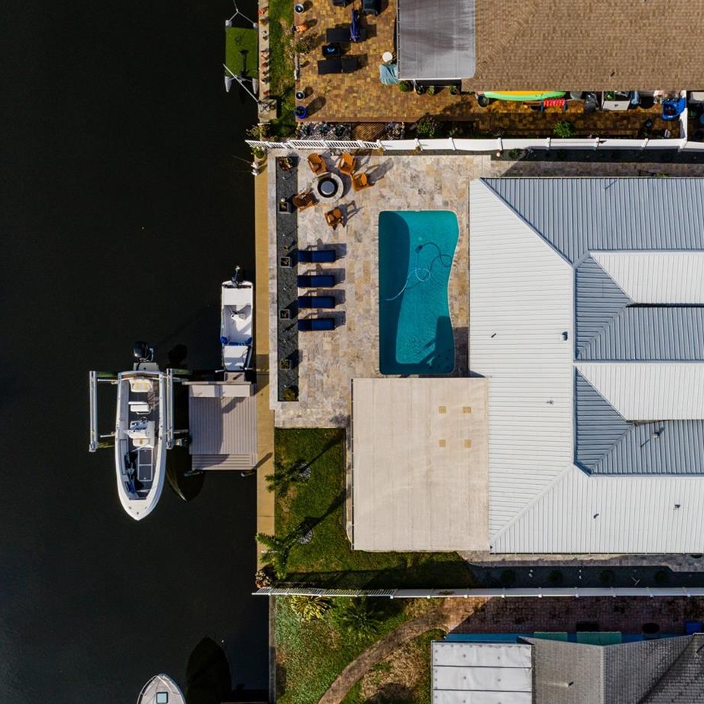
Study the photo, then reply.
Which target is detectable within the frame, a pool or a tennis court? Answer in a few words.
pool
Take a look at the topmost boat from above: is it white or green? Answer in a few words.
green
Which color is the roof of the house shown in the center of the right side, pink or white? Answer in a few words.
white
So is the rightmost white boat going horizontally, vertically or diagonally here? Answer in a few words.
vertically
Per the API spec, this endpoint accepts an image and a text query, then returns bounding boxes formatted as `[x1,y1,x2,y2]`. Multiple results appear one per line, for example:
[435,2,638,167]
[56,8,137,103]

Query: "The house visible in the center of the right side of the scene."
[471,175,704,556]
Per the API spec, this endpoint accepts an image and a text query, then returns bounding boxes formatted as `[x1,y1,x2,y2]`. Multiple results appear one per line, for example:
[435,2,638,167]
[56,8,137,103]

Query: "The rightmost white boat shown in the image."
[215,267,255,373]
